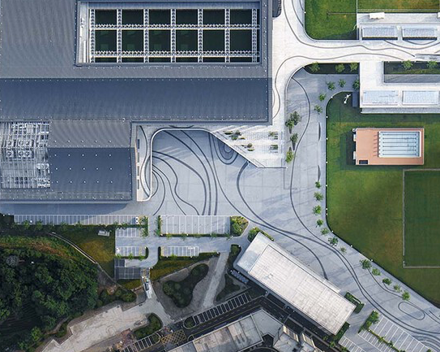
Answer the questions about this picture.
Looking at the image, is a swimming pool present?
Yes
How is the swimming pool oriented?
from side to side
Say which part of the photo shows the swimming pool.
right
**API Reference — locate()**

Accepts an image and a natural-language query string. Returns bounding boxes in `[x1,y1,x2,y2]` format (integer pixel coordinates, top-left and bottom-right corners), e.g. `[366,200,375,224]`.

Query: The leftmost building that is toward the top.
[0,0,273,202]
